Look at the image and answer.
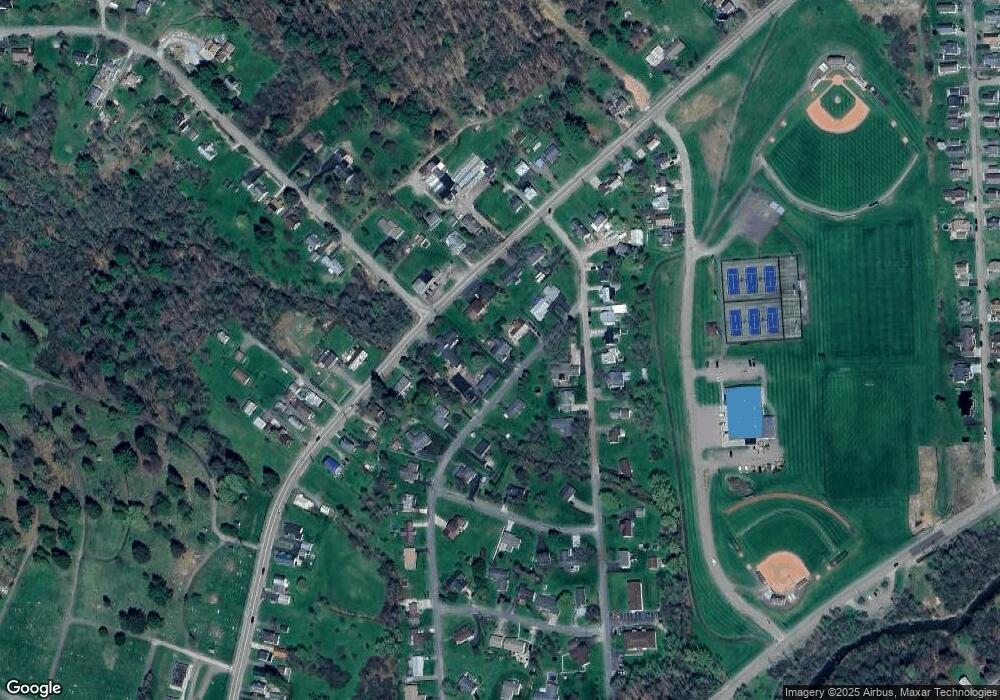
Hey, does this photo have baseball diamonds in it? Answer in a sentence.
Yes, you can see a baseball diamond in this photo.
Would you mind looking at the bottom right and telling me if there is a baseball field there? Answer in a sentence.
Yes, a baseball field can be seen at the bottom right.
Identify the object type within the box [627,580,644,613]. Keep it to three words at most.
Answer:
building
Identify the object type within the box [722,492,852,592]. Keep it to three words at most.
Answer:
baseball field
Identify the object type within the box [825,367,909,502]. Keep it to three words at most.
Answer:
sports field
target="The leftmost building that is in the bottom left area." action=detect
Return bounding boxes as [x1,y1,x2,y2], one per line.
[171,659,191,688]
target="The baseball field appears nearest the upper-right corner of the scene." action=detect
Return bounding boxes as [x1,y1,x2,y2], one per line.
[759,65,920,219]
